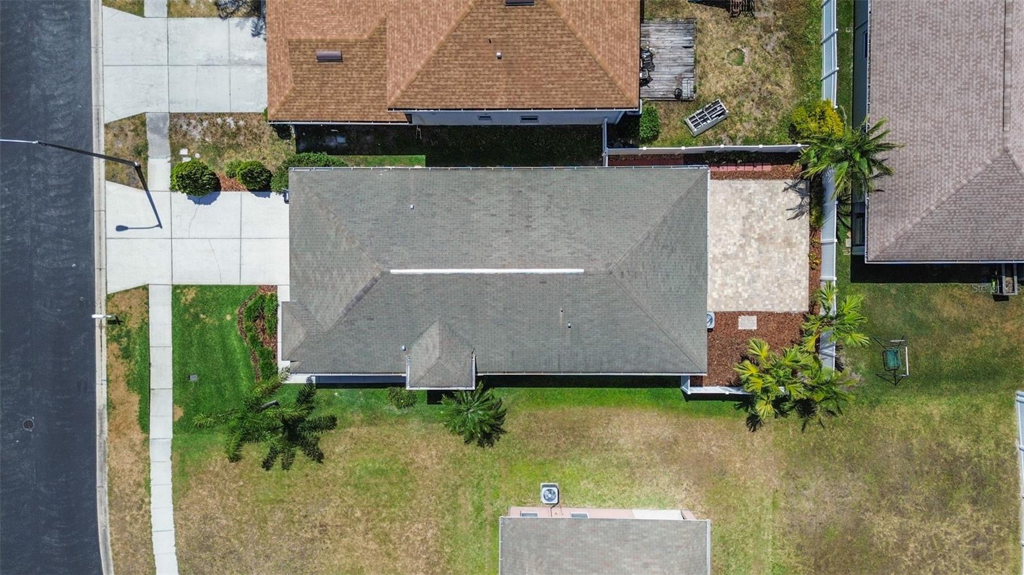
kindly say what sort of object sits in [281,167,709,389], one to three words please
house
